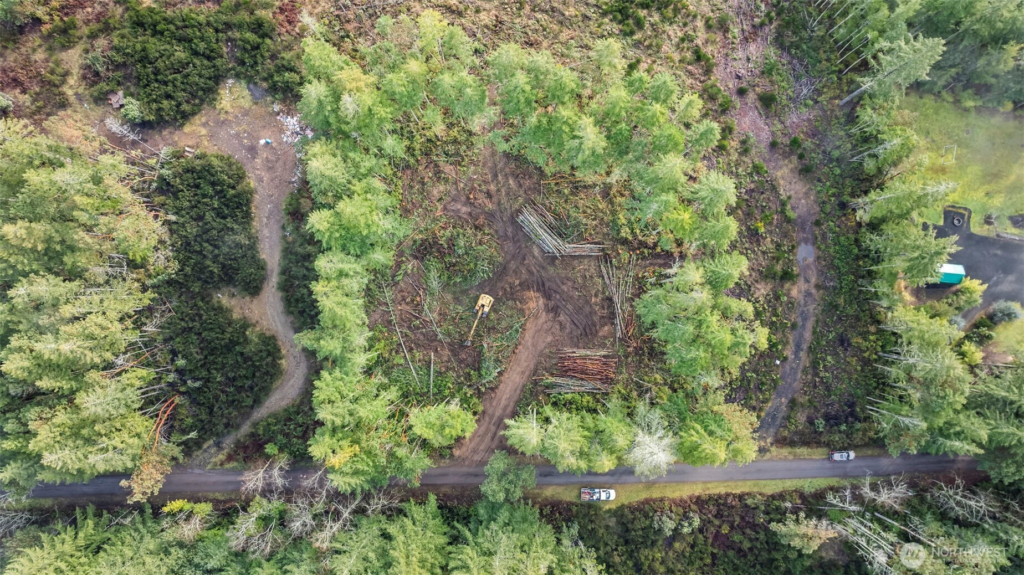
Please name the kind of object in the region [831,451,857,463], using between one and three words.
vehicle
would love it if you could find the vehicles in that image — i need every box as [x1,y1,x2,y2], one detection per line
[831,451,857,463]
[467,291,495,343]
[581,490,617,504]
